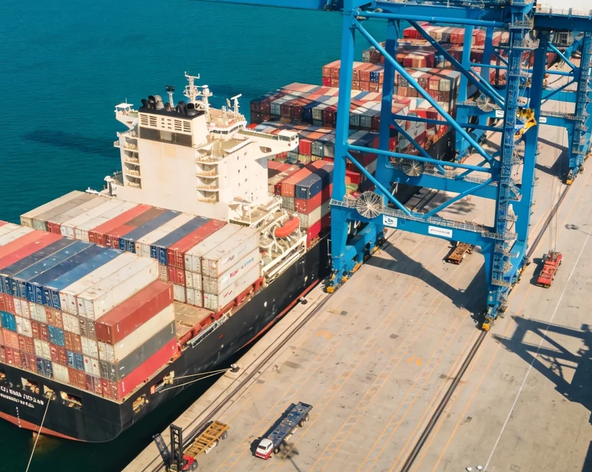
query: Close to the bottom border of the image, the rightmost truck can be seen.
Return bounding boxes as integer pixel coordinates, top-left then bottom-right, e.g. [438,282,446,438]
[249,402,313,464]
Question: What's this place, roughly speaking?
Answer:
port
